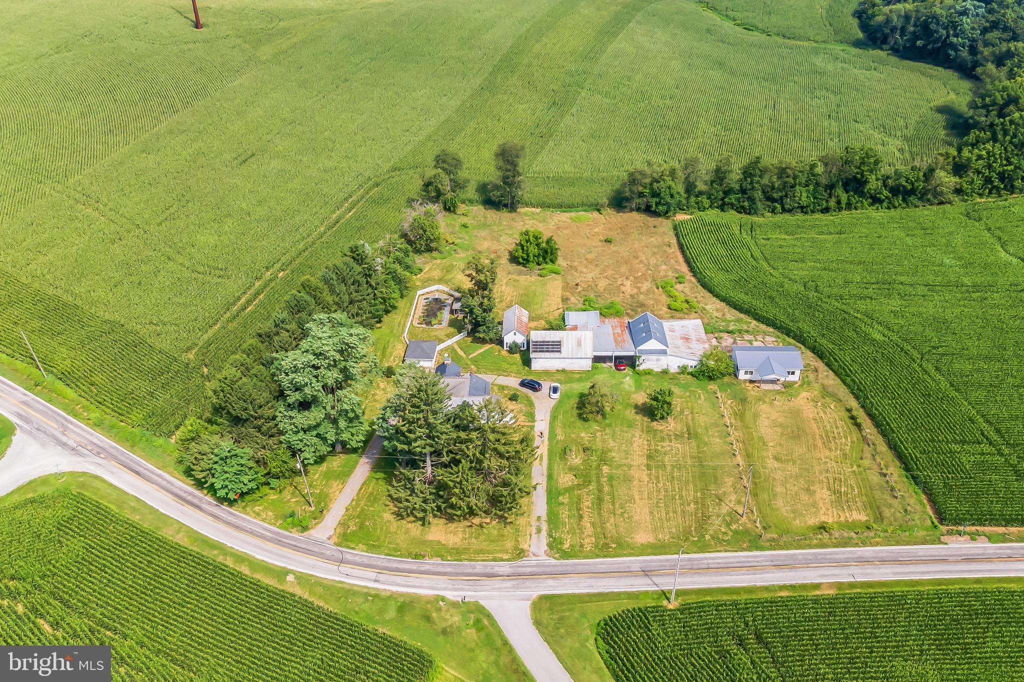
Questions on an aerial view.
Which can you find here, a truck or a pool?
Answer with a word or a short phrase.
pool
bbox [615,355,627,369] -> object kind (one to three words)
vehicle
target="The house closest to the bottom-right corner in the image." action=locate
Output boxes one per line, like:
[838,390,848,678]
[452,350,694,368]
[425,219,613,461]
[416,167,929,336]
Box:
[730,346,804,389]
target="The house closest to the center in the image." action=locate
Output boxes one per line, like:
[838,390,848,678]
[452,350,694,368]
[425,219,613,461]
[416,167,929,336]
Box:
[502,303,528,350]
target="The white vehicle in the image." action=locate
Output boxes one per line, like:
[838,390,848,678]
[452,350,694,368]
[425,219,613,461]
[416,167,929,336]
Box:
[549,382,561,400]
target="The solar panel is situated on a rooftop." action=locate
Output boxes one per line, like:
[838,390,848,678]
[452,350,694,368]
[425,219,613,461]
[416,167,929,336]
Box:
[532,339,561,353]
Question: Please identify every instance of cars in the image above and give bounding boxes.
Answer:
[518,379,544,393]
[549,382,561,400]
[615,355,627,369]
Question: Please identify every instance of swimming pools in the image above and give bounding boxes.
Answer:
[413,292,452,328]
